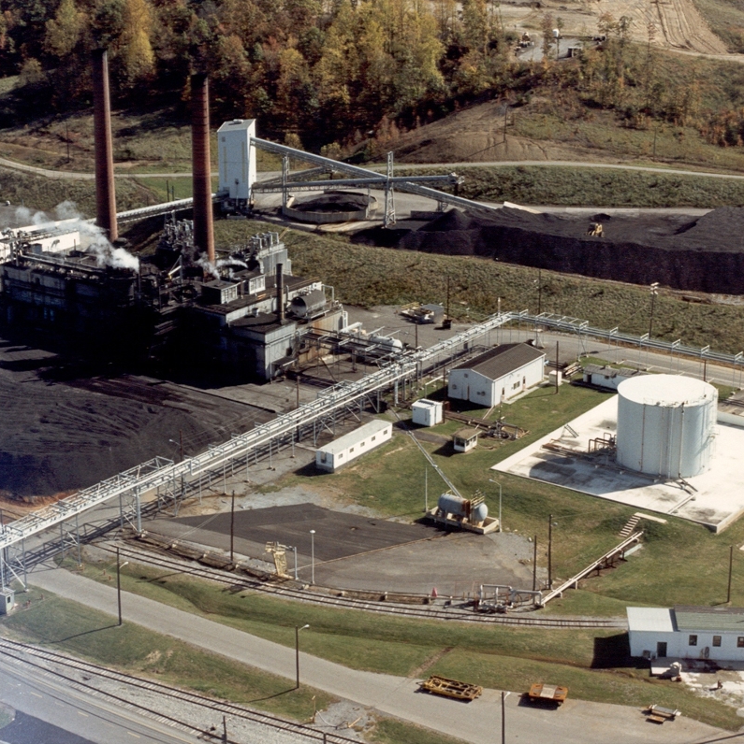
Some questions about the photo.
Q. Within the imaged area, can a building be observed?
Yes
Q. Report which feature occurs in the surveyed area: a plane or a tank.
tank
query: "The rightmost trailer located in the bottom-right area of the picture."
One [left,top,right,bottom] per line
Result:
[519,679,566,699]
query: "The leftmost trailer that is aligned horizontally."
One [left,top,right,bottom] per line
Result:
[411,677,479,700]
